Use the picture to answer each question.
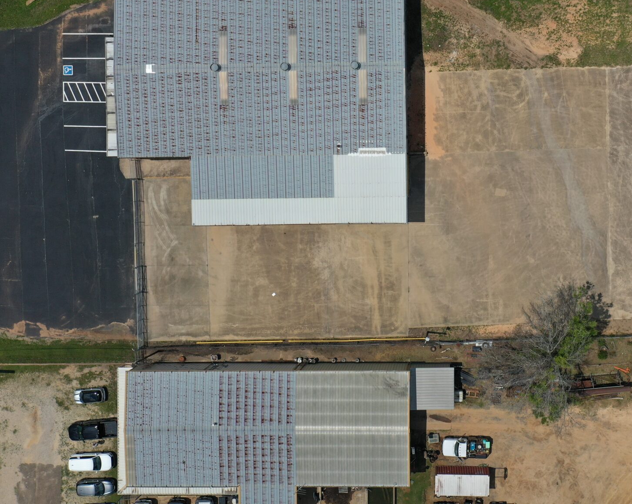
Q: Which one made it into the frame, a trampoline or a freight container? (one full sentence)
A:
The image shows a freight container.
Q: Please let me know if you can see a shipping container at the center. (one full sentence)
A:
No, I can find no shipping container at the center.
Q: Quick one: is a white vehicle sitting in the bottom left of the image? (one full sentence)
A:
Yes, I can see a white vehicle in the bottom left of the image.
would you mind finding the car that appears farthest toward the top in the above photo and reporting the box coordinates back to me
[72,386,106,407]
